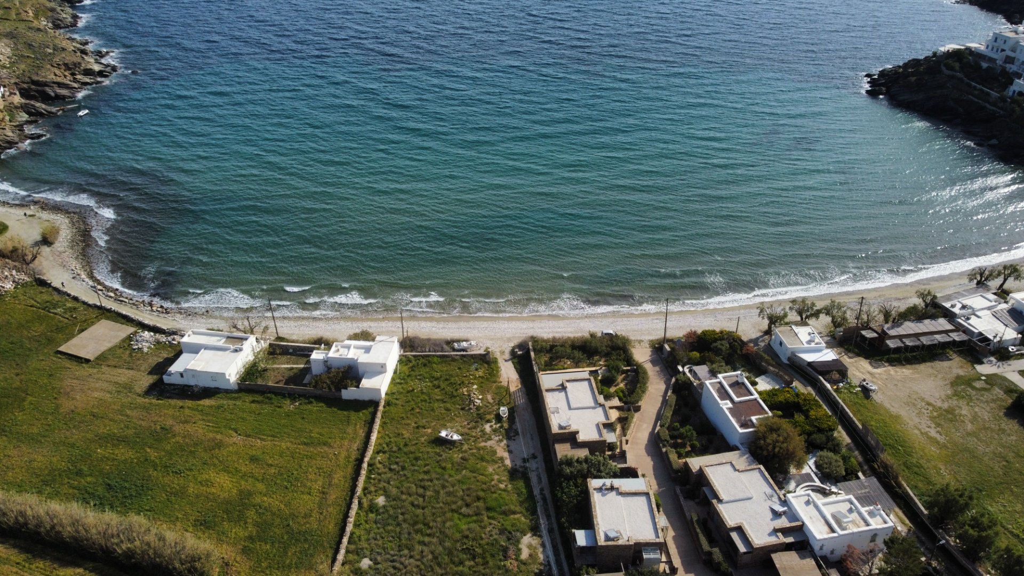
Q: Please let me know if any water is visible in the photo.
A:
Yes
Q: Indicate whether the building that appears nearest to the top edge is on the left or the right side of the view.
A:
right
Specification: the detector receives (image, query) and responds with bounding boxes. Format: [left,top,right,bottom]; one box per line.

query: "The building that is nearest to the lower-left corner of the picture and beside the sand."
[162,330,265,388]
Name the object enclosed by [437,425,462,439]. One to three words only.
boat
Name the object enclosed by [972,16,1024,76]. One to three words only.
building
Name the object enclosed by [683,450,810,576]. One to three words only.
house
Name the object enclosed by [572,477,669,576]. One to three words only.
house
